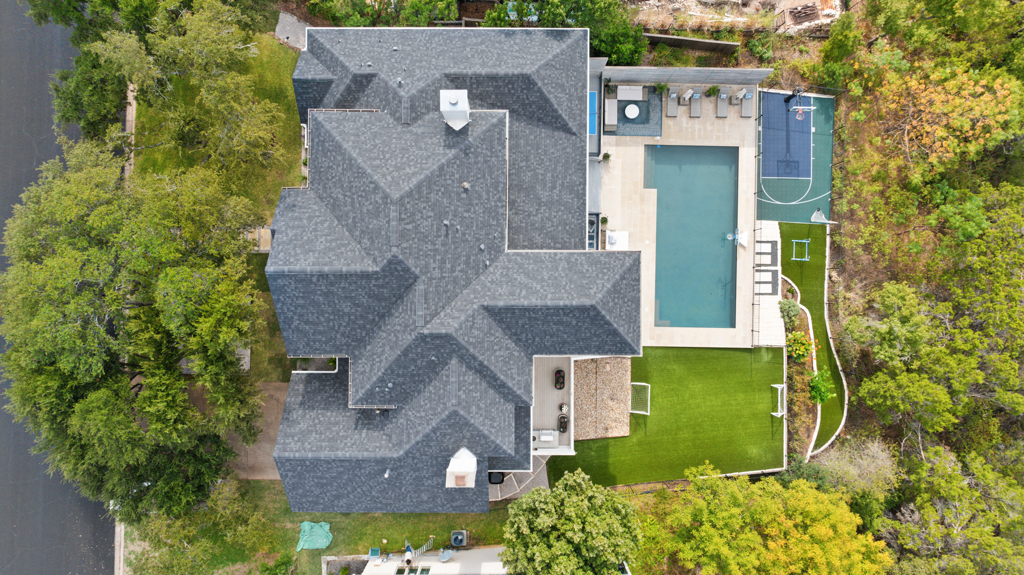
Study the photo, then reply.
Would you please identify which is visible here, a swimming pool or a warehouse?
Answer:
swimming pool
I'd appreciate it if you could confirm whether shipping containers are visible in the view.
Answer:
No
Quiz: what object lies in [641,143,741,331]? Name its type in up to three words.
swimming pool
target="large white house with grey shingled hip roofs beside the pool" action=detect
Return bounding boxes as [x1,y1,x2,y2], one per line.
[265,26,643,513]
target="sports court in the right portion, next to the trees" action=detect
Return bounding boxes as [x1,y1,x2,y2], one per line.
[755,92,834,225]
